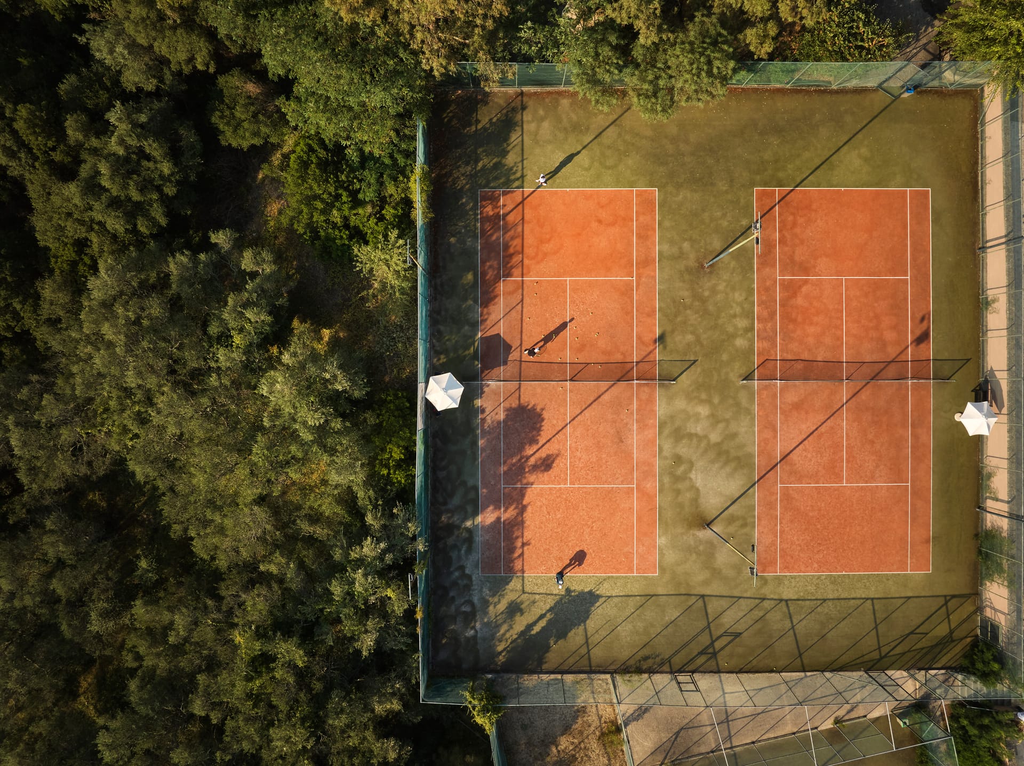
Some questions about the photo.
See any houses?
No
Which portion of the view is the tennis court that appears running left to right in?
bottom right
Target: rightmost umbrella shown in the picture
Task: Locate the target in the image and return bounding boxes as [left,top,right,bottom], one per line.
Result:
[956,401,998,436]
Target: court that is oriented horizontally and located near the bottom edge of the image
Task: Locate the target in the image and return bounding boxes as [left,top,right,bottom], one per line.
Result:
[673,705,935,766]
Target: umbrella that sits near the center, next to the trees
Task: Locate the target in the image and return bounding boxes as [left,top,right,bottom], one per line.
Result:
[425,373,464,411]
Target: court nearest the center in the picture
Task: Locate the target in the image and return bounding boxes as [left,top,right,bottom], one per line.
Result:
[479,188,658,576]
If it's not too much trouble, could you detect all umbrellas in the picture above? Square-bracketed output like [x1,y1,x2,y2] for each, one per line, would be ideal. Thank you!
[425,373,464,411]
[956,401,998,436]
